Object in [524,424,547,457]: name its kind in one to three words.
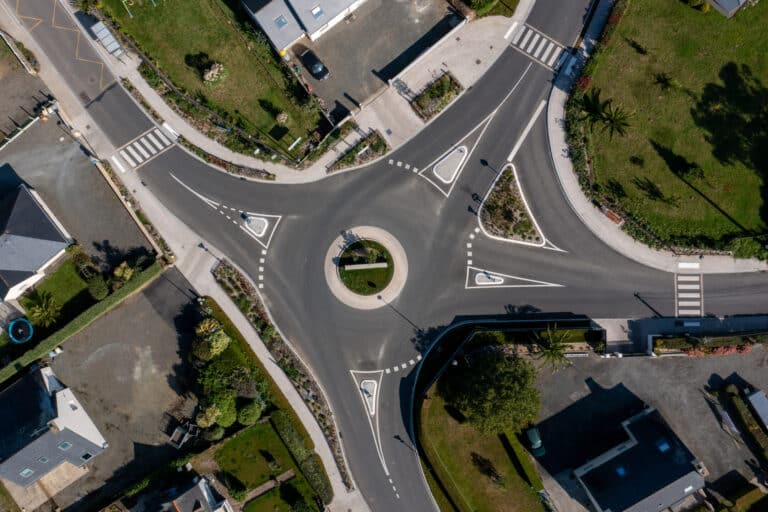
car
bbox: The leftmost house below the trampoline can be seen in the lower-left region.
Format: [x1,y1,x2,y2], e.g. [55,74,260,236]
[0,363,106,512]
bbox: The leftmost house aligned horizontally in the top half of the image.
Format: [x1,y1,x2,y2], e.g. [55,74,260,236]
[242,0,375,53]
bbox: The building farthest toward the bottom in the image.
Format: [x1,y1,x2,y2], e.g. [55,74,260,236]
[175,477,244,512]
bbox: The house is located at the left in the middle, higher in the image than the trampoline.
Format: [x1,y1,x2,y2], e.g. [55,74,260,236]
[0,184,76,317]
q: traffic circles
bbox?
[325,226,408,309]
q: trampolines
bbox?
[8,319,37,343]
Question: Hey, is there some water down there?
No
